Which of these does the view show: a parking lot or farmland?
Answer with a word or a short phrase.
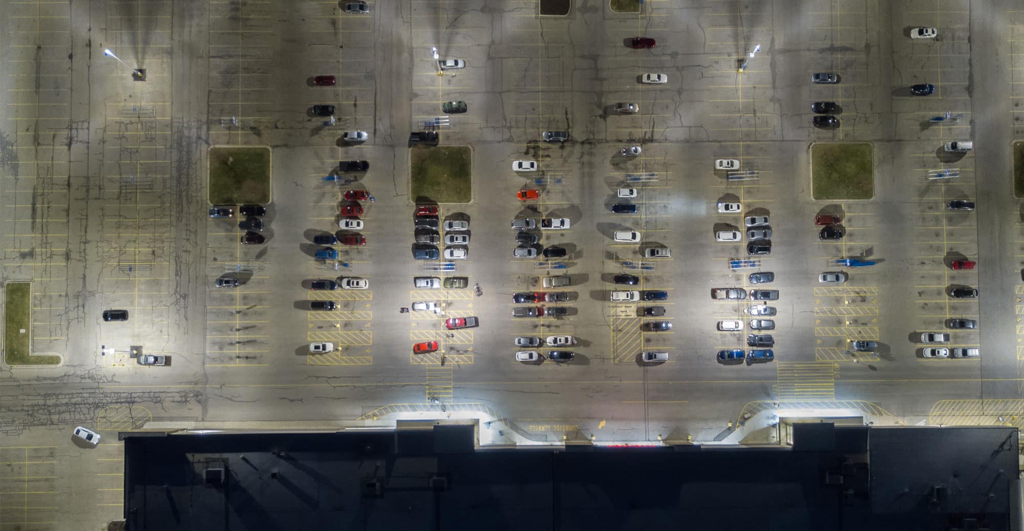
parking lot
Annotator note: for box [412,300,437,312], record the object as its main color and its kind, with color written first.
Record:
white vehicle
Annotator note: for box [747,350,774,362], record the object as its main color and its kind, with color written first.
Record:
blue vehicle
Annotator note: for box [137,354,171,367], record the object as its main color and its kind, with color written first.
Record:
gray vehicle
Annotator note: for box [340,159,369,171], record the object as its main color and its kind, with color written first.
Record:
black vehicle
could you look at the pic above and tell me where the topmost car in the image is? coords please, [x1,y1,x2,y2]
[347,1,369,13]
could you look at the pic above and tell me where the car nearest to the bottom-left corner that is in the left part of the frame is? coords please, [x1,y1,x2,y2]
[72,428,102,446]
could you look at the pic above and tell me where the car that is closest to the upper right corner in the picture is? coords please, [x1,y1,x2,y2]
[910,27,937,39]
